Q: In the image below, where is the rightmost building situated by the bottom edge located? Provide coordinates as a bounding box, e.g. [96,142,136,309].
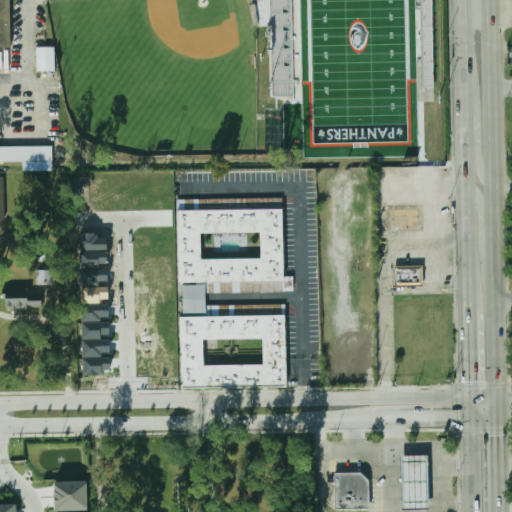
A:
[335,472,369,510]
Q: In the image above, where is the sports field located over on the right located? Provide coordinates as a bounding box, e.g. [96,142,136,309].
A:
[302,0,416,157]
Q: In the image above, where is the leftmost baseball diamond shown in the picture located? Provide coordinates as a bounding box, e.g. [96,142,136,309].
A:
[47,0,257,156]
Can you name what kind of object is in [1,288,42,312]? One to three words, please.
house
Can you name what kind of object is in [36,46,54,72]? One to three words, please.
shed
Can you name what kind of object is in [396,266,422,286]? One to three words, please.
building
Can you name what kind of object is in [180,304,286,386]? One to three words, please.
building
